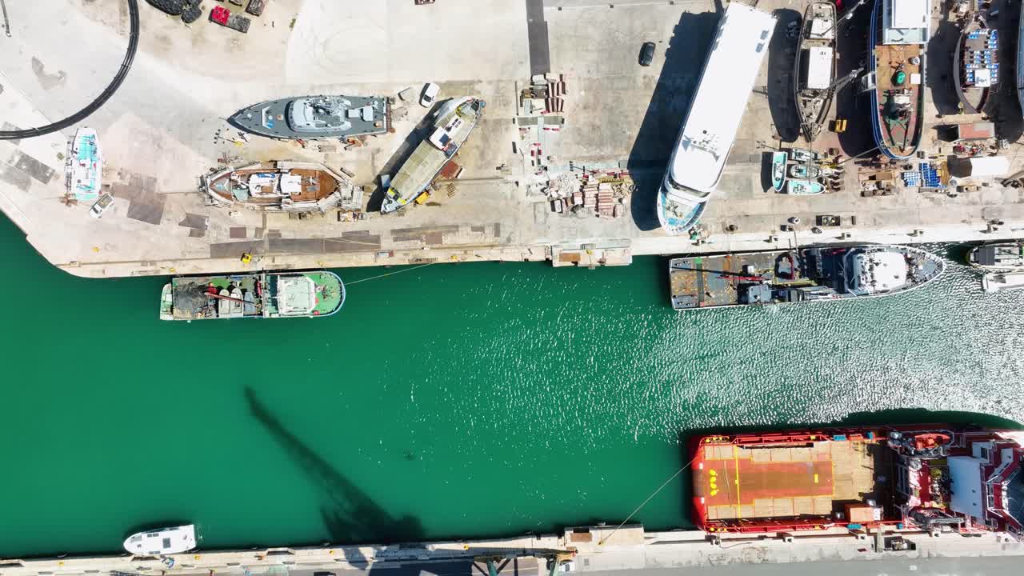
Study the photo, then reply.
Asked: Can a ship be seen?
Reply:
Yes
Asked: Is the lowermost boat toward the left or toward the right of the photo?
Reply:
left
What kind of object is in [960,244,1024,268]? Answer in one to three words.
boat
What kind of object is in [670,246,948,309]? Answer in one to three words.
ship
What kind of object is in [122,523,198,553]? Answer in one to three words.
boat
